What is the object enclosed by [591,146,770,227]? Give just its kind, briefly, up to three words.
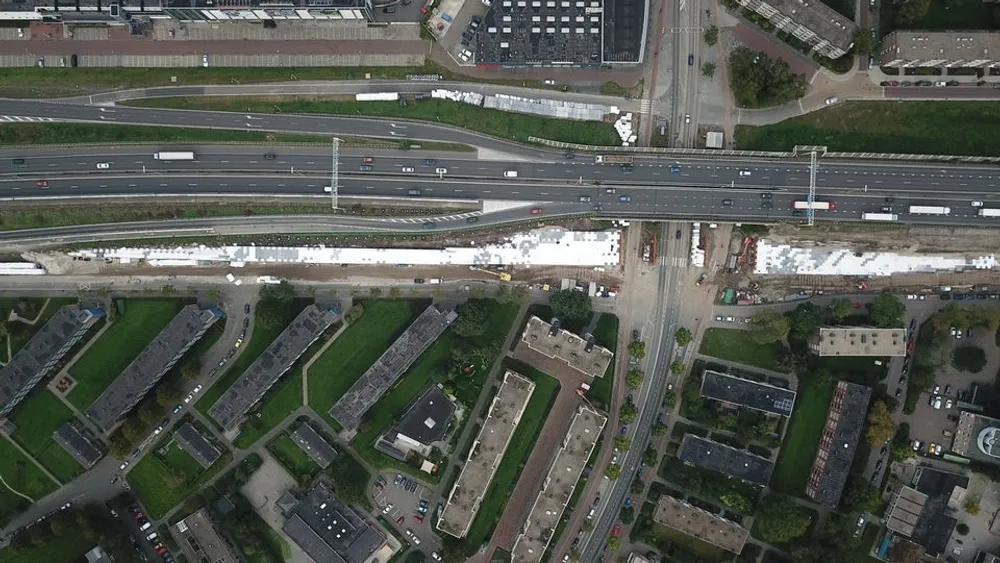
bridge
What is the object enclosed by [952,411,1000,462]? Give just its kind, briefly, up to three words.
building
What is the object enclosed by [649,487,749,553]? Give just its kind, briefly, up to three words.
building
